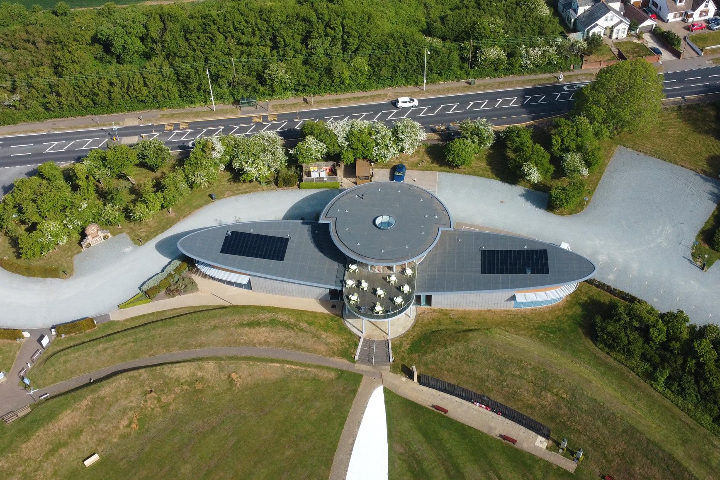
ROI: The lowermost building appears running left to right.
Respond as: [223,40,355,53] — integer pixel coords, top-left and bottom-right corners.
[177,181,596,336]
